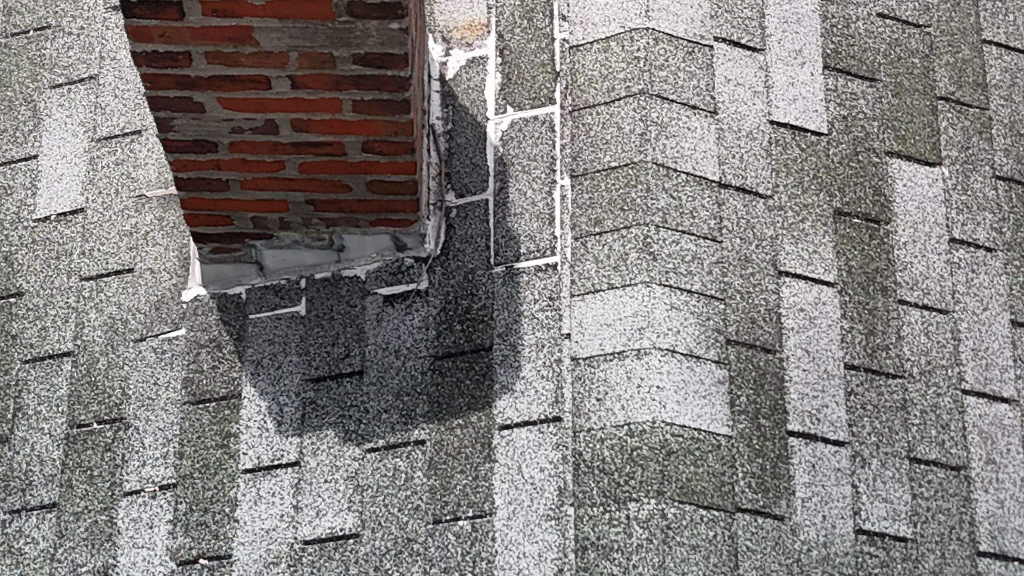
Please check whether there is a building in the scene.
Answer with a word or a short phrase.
No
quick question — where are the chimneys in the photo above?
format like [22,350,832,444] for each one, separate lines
[118,0,443,296]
